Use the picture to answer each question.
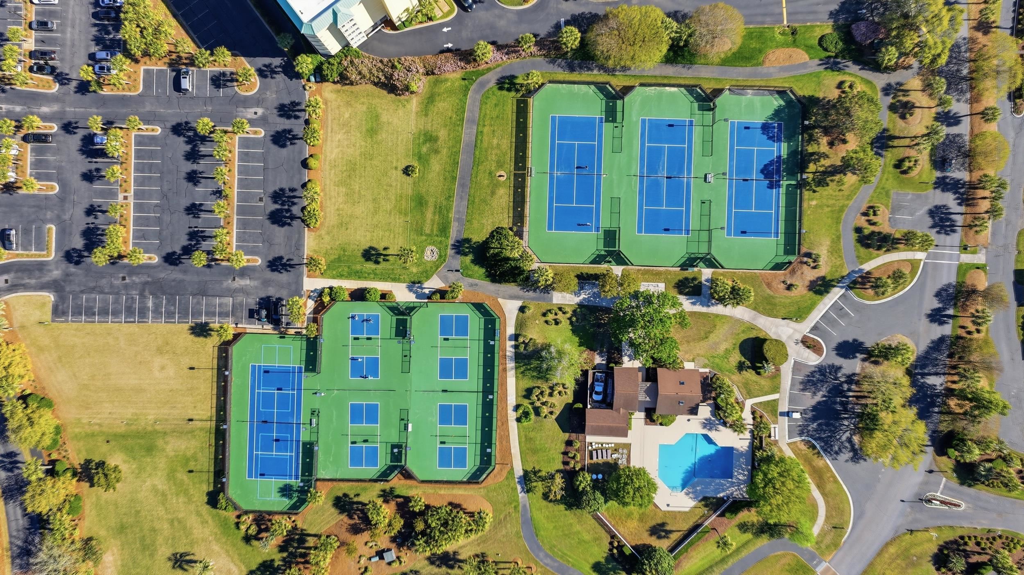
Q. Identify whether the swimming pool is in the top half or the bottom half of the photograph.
bottom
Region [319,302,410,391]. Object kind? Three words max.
sports court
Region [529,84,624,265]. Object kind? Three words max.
tennis court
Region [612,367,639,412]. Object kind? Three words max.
building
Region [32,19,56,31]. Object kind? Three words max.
vehicle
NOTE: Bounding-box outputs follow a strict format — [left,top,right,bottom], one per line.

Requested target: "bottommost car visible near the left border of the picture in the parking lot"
[2,228,16,251]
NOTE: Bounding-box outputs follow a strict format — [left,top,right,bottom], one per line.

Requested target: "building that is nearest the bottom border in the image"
[585,407,629,437]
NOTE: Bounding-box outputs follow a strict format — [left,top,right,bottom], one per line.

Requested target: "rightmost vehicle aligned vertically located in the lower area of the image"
[592,372,605,401]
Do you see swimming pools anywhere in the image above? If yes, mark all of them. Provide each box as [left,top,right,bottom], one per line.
[657,432,735,497]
